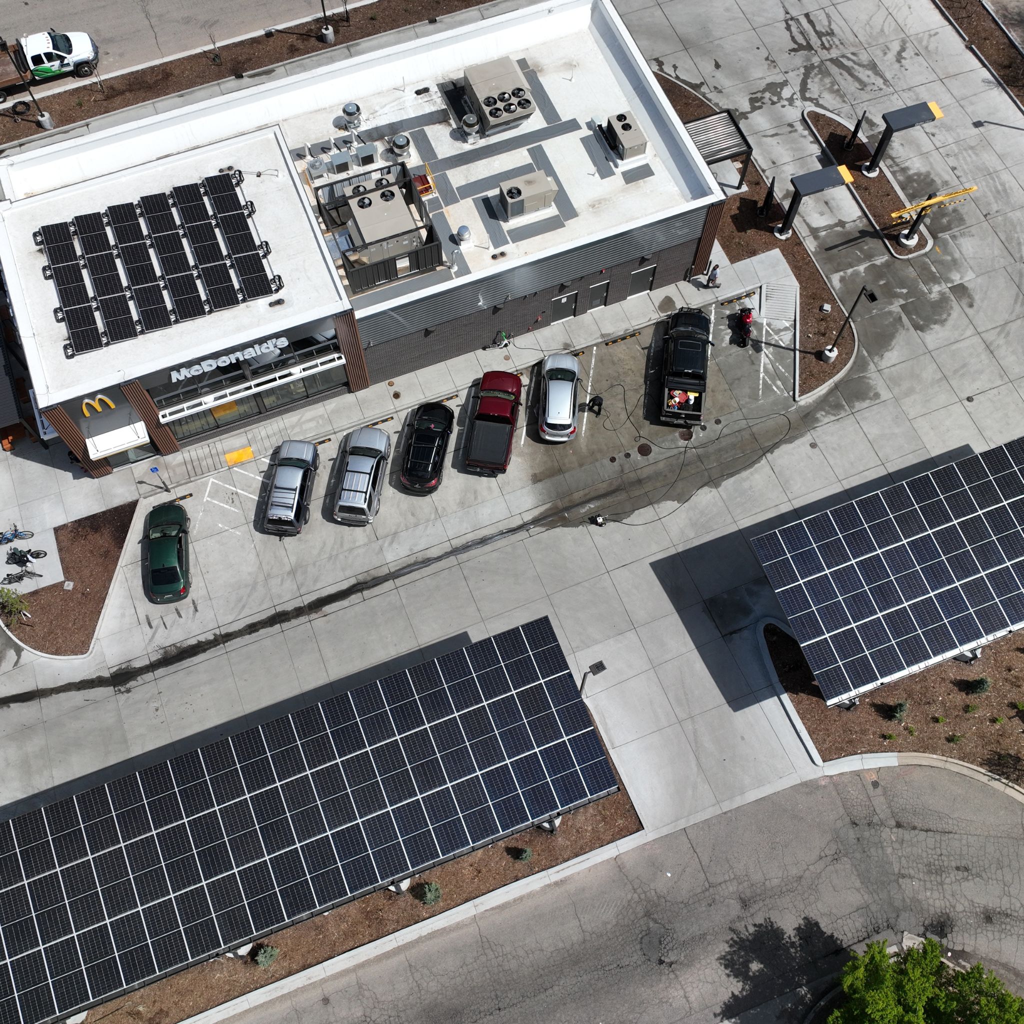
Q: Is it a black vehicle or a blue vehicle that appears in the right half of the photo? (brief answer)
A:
black vehicle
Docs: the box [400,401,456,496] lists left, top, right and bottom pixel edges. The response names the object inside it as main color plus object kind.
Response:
black car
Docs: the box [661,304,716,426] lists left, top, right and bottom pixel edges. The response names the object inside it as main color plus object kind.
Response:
black truck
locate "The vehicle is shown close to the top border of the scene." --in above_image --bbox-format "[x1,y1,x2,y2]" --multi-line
[0,28,101,90]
